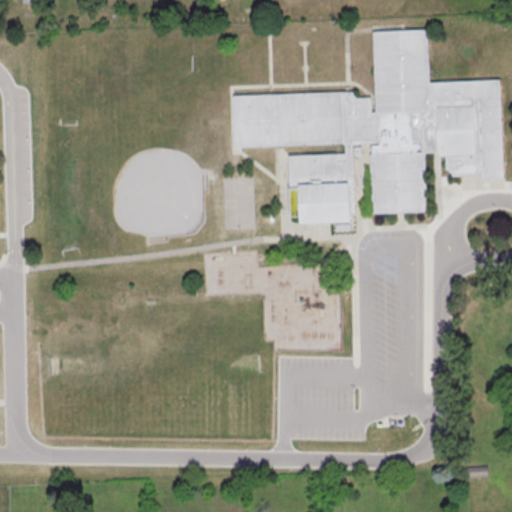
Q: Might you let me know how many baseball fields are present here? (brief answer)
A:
one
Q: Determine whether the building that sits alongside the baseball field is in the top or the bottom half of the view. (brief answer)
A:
top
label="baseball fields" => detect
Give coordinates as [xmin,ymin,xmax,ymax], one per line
[113,147,216,246]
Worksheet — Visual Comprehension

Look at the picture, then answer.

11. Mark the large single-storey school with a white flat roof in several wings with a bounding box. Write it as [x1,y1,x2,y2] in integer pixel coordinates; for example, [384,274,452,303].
[232,29,505,232]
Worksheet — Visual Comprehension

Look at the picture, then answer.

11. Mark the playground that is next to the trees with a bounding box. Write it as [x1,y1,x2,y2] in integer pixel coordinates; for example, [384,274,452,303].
[204,250,342,350]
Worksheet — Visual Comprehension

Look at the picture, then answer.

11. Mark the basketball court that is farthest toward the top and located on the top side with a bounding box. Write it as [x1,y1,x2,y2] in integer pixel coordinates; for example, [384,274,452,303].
[224,177,256,230]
